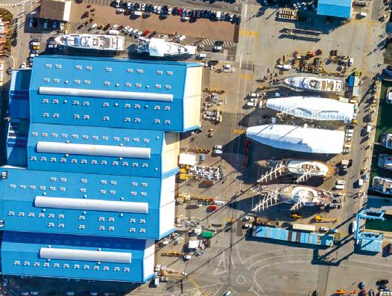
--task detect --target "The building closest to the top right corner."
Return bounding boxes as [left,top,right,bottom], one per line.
[317,0,356,18]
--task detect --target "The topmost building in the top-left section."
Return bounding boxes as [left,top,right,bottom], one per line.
[39,0,78,21]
